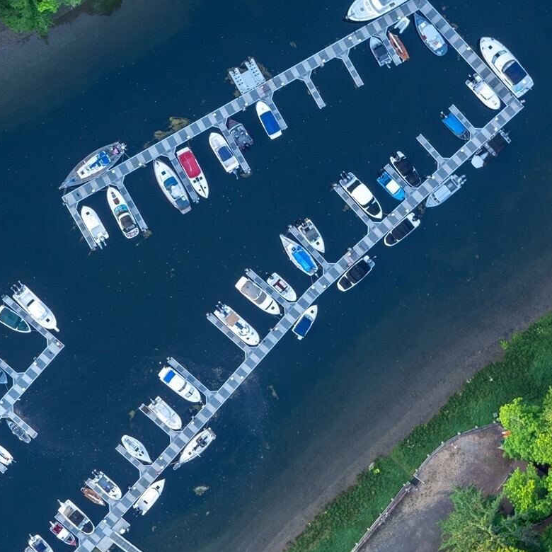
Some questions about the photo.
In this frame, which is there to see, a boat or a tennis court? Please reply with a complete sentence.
Looking from above, you can make out a boat.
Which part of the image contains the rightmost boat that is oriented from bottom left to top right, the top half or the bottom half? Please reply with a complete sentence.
The rightmost boat that is oriented from bottom left to top right is in the top half of the image.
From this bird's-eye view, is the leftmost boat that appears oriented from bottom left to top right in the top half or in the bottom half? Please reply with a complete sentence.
It is in the top half that the leftmost boat that appears oriented from bottom left to top right appears.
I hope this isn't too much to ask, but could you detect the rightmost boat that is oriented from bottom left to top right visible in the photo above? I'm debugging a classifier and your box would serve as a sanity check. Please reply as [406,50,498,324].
[471,132,511,168]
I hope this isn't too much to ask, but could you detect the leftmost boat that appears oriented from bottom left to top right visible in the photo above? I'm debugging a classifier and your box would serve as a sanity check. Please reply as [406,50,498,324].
[54,143,128,192]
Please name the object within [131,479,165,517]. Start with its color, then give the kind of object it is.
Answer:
white boat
